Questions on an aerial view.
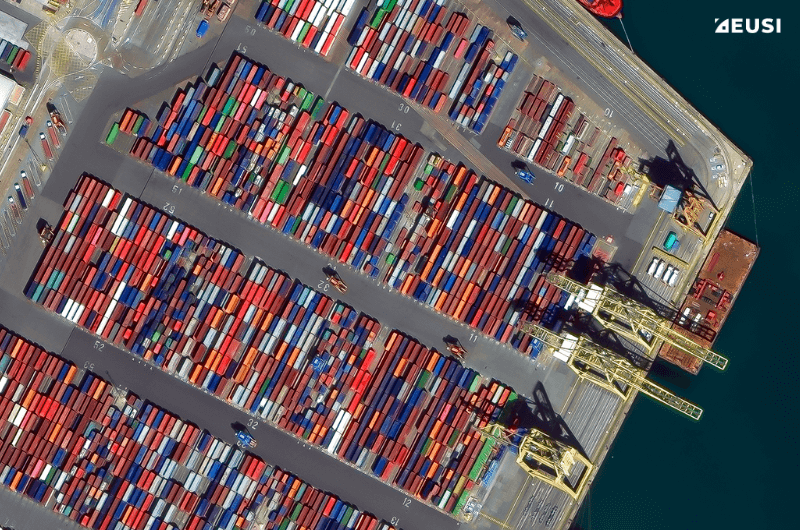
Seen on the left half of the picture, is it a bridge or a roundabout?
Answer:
roundabout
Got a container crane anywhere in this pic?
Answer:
Yes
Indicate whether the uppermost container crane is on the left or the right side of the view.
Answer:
right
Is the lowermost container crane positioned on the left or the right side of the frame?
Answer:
right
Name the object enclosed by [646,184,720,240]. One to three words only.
container crane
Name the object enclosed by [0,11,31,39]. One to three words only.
building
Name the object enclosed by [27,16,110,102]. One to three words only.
roundabout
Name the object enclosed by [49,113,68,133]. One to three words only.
work vehicle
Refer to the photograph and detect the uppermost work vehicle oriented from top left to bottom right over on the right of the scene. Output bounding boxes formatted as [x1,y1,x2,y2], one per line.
[509,23,530,41]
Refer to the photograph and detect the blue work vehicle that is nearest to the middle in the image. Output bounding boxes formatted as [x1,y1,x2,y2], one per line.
[514,169,537,185]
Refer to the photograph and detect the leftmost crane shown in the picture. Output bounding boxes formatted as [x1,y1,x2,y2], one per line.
[470,421,594,502]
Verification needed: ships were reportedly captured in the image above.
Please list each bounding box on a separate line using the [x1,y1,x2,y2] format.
[660,229,762,376]
[578,0,622,18]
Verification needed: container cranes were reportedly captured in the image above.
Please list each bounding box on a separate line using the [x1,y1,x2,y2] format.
[546,271,731,371]
[646,184,720,240]
[521,321,705,422]
[470,421,594,502]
